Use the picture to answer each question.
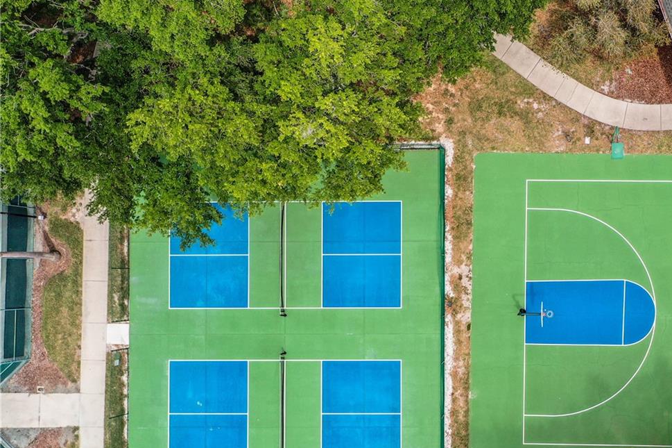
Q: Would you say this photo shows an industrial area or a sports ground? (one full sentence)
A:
The picture captures a sports ground.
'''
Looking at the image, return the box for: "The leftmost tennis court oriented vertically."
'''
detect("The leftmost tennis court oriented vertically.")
[0,128,31,379]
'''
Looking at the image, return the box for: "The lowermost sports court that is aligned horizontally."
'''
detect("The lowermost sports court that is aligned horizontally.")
[168,360,401,448]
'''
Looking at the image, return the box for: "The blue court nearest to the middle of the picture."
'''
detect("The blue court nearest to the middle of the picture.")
[169,201,402,308]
